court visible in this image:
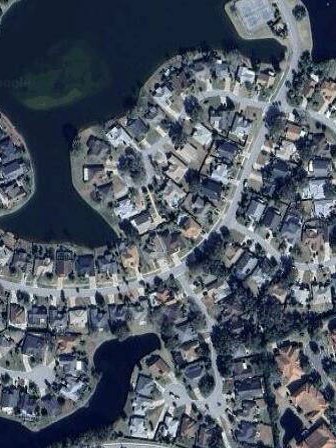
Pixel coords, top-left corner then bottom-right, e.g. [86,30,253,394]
[231,0,275,36]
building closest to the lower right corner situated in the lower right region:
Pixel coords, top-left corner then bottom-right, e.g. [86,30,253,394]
[296,422,336,448]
